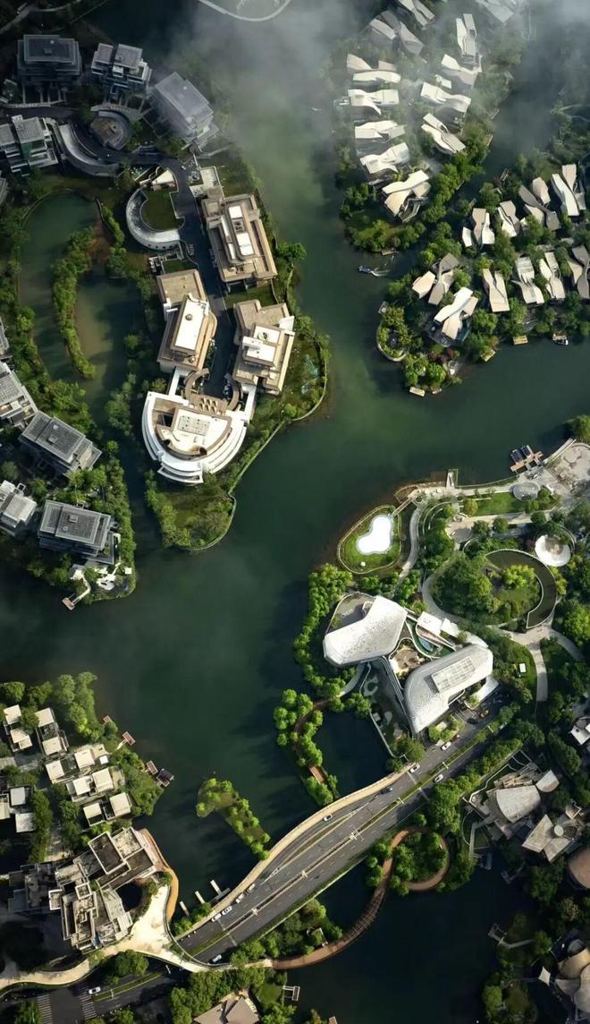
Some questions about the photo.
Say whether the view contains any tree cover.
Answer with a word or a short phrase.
Yes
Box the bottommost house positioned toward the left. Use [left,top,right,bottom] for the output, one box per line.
[193,991,260,1024]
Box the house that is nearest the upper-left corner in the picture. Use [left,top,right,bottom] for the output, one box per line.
[19,35,83,112]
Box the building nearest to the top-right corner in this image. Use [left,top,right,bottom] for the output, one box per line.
[472,0,528,32]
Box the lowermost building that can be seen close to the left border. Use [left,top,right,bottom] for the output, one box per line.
[9,823,165,951]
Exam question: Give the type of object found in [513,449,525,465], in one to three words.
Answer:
boat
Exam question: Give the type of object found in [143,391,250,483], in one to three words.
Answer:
building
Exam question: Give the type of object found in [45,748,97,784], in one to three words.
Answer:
house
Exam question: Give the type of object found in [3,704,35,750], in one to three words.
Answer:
house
